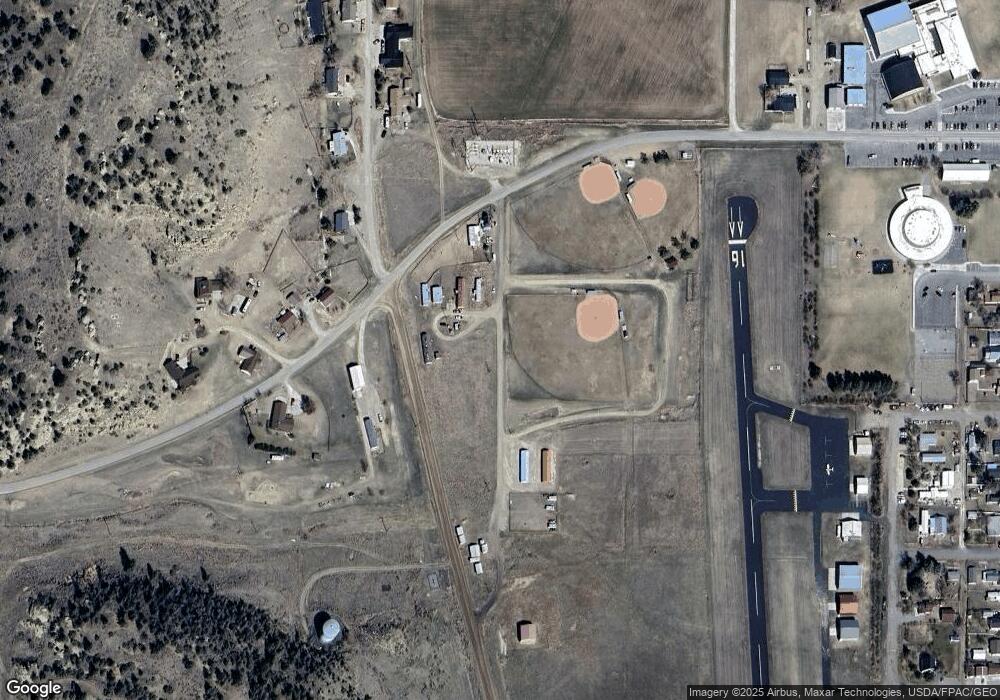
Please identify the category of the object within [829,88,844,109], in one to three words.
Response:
building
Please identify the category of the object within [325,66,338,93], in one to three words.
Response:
house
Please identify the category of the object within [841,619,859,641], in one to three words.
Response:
hangar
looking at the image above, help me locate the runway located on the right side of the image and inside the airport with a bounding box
[728,196,771,700]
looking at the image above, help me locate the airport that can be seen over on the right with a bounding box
[728,196,869,700]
